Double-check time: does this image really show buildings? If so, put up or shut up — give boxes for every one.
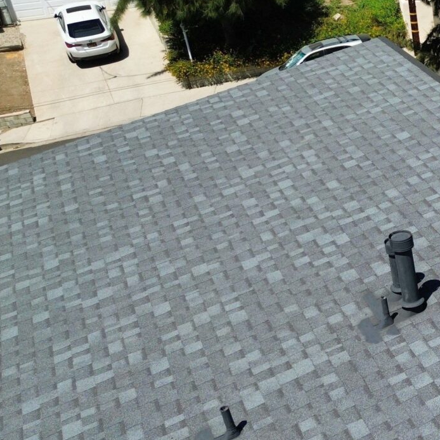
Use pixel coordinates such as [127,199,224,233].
[0,0,146,25]
[0,36,440,440]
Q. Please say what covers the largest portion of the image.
buildings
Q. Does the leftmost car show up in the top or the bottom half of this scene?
top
